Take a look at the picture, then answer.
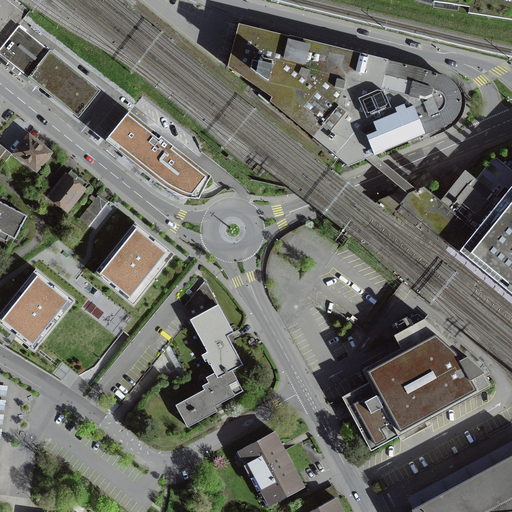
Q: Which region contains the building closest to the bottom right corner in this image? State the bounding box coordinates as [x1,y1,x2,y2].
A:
[407,439,512,512]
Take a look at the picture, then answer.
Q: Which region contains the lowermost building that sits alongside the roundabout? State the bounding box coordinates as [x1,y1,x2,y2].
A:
[176,280,242,427]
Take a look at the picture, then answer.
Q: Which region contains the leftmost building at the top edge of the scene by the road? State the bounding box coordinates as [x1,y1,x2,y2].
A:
[0,25,47,76]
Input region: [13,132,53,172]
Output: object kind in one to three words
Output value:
house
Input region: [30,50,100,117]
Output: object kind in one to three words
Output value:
building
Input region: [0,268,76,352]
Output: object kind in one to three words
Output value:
house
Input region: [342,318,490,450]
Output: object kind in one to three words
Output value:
building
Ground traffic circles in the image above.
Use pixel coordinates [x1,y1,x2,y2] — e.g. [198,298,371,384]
[201,198,265,262]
